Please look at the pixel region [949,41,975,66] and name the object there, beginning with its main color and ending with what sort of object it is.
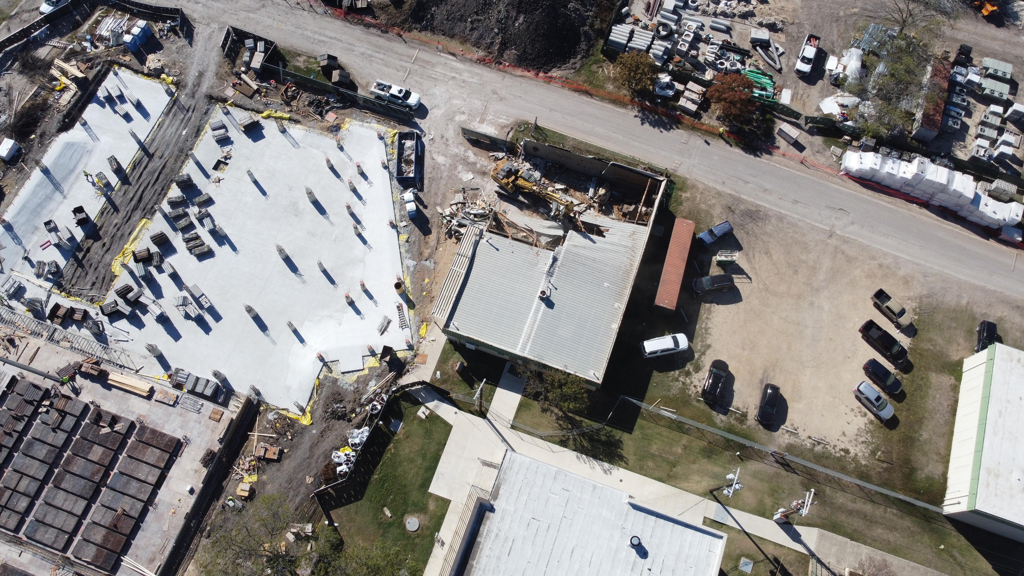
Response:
black work vehicle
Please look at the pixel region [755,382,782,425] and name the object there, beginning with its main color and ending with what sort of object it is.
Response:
black car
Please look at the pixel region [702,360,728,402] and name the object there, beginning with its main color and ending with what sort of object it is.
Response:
black car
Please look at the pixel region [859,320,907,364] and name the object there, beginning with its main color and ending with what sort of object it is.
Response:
black truck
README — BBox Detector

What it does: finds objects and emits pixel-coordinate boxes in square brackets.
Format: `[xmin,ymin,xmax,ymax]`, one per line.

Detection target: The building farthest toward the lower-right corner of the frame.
[942,342,1024,541]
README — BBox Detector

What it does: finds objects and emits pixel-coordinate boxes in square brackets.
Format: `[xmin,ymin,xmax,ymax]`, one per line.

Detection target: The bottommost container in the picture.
[652,217,695,317]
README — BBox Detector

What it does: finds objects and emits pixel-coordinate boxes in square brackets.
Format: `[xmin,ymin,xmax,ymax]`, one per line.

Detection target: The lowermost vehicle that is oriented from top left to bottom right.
[853,382,894,420]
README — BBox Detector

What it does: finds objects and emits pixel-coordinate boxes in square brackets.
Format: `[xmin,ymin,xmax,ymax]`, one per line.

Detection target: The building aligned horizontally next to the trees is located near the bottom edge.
[452,449,727,576]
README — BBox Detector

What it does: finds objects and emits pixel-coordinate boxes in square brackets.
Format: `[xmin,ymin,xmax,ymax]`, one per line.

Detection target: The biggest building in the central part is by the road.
[442,137,668,392]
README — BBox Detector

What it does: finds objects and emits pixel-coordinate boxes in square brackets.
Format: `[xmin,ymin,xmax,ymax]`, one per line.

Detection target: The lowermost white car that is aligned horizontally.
[641,334,689,360]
